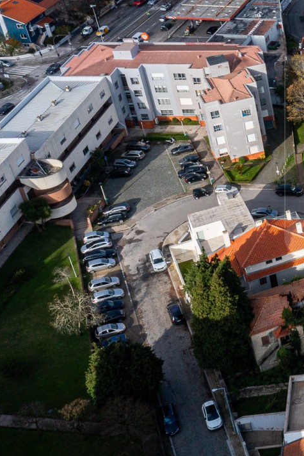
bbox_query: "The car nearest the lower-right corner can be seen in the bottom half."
[202,398,220,428]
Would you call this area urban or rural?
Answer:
urban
